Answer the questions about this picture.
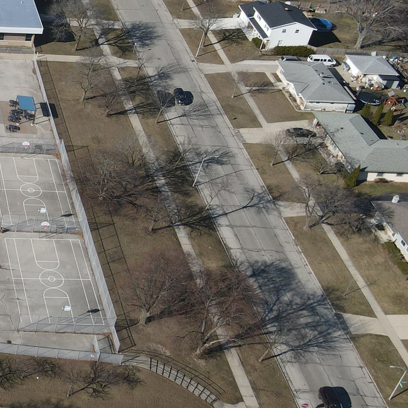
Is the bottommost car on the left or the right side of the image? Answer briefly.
right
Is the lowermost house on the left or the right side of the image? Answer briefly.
right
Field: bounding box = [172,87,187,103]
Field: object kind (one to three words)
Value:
car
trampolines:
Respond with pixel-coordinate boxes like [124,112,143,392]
[358,89,383,103]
